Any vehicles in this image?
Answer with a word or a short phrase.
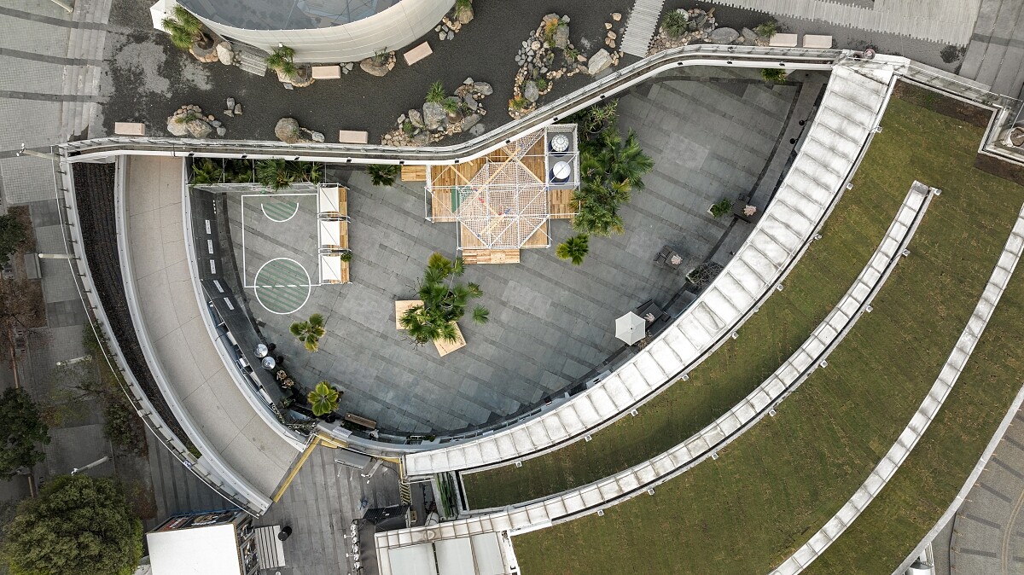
No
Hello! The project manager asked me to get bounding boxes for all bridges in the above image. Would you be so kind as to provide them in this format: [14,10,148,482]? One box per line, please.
[56,44,841,168]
